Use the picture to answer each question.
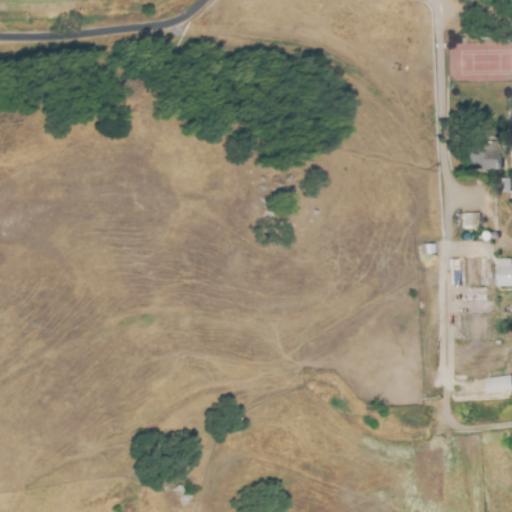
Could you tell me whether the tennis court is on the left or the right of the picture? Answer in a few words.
right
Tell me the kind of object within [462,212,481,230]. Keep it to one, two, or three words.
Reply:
house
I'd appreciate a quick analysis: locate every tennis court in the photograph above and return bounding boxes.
[450,42,512,82]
